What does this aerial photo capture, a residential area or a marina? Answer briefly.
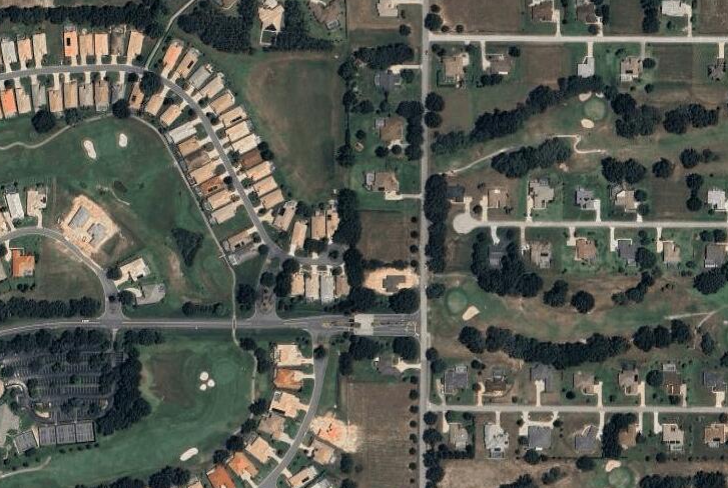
residential area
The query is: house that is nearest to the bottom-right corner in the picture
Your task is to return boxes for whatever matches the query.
[705,427,725,448]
